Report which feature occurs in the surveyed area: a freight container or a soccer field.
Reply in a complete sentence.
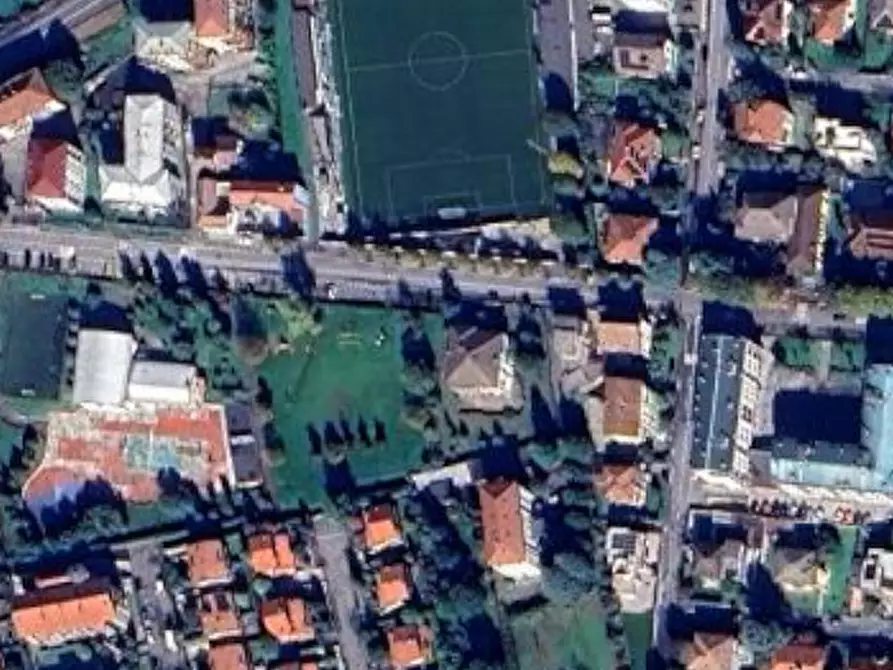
It is a soccer field that can be seen here.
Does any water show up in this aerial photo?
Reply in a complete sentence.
No, the scene doesn't show any water.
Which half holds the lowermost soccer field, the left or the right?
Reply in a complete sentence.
It is on the left.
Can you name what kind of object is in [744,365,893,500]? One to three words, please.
building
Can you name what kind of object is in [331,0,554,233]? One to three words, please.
soccer field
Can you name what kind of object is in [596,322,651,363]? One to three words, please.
house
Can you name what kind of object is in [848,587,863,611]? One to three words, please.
shed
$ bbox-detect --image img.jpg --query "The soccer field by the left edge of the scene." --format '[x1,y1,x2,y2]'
[0,298,67,398]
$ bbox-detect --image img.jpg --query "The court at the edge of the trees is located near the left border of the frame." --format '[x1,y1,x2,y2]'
[22,403,236,530]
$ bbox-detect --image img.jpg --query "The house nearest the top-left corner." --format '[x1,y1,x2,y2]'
[0,68,75,146]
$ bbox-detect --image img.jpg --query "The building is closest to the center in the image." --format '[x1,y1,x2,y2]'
[445,332,521,413]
